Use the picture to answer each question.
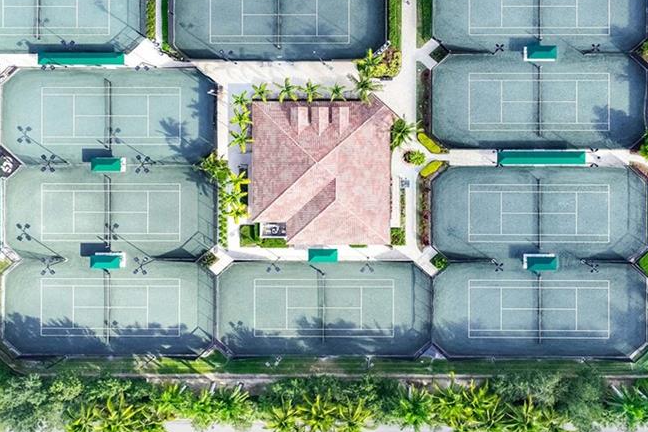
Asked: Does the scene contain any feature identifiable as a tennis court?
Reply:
Yes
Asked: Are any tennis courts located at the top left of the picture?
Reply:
Yes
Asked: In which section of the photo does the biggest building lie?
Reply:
center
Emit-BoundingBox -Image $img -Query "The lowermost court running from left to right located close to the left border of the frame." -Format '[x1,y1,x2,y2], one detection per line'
[3,259,217,356]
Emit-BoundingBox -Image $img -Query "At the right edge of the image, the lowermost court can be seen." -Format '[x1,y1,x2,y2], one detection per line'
[434,261,647,359]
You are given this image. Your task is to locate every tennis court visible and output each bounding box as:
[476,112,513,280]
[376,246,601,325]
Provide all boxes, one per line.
[3,259,217,356]
[2,68,214,164]
[218,261,432,358]
[435,53,647,148]
[434,261,647,359]
[174,0,385,59]
[434,0,647,53]
[4,164,215,259]
[435,166,647,261]
[0,0,145,52]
